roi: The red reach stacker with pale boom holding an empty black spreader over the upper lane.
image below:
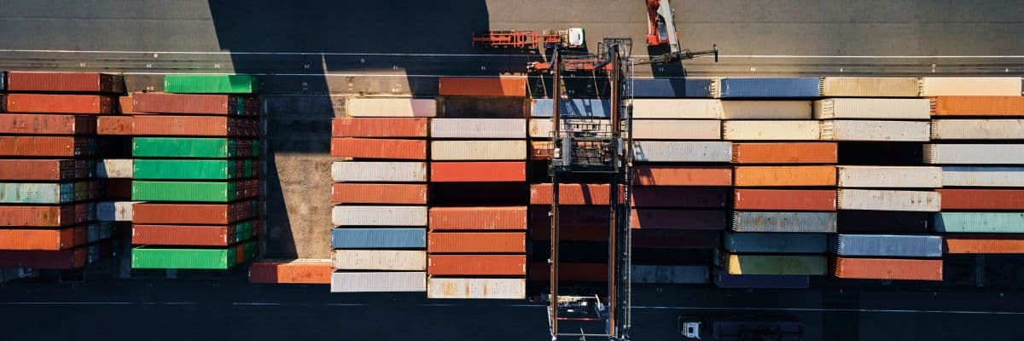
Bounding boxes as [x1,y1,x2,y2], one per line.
[626,0,720,71]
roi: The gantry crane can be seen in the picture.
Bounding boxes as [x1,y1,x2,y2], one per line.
[525,38,636,341]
